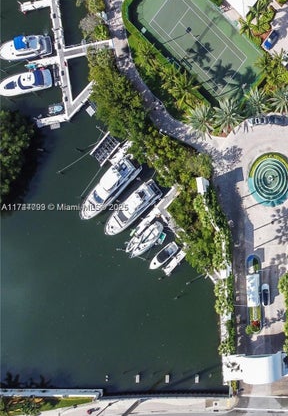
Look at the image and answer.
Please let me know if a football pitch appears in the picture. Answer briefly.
No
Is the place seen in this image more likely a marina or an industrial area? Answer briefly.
marina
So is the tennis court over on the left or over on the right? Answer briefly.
right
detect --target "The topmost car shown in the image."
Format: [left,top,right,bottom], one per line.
[262,29,281,52]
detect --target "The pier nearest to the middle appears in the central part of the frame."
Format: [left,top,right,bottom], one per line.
[132,194,189,249]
